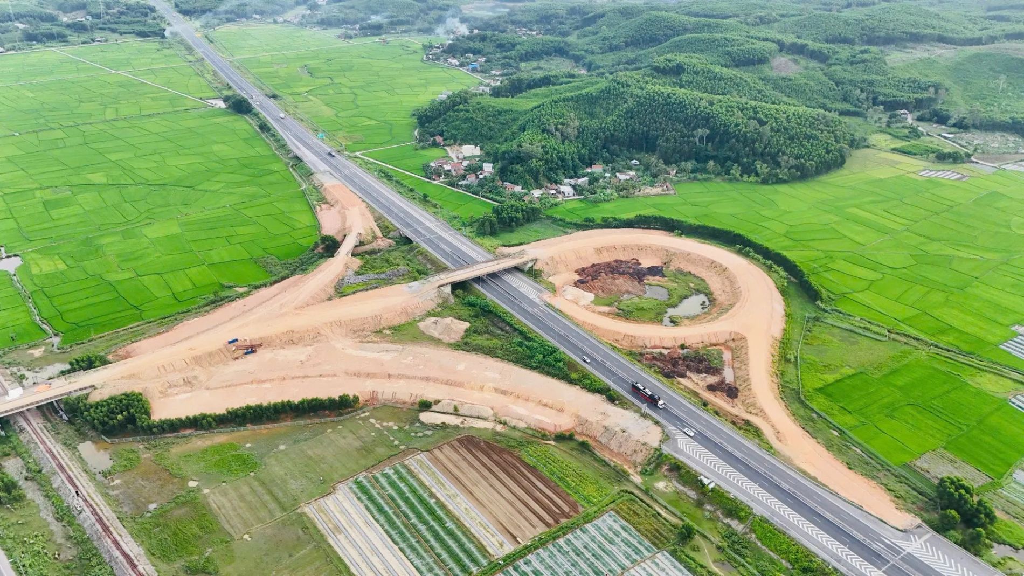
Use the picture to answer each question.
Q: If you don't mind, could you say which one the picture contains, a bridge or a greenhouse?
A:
bridge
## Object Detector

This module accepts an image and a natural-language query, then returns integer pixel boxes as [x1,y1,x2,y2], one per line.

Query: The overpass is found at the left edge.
[0,369,98,424]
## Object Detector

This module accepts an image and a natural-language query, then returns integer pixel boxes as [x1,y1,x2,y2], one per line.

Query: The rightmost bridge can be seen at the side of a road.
[425,248,543,288]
